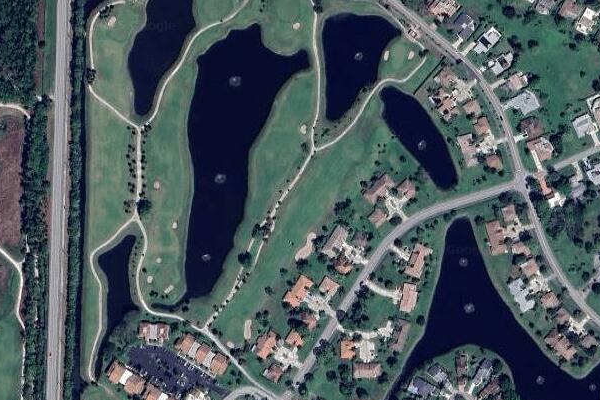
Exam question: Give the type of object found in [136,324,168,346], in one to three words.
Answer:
building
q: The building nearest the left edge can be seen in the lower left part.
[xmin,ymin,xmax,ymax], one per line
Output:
[105,363,145,395]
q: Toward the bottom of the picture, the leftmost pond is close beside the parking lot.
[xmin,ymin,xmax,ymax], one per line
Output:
[92,234,138,379]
